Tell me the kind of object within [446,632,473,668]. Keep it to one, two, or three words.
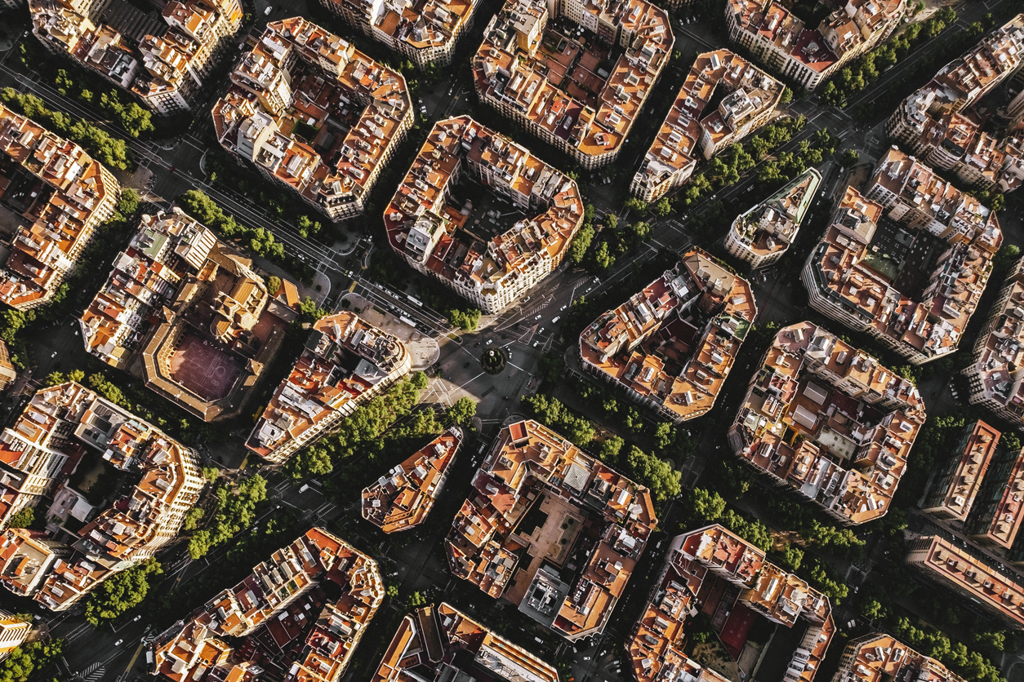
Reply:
building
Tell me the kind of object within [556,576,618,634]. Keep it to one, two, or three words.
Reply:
house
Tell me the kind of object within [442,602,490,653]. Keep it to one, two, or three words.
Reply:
house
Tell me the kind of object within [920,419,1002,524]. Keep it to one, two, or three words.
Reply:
building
